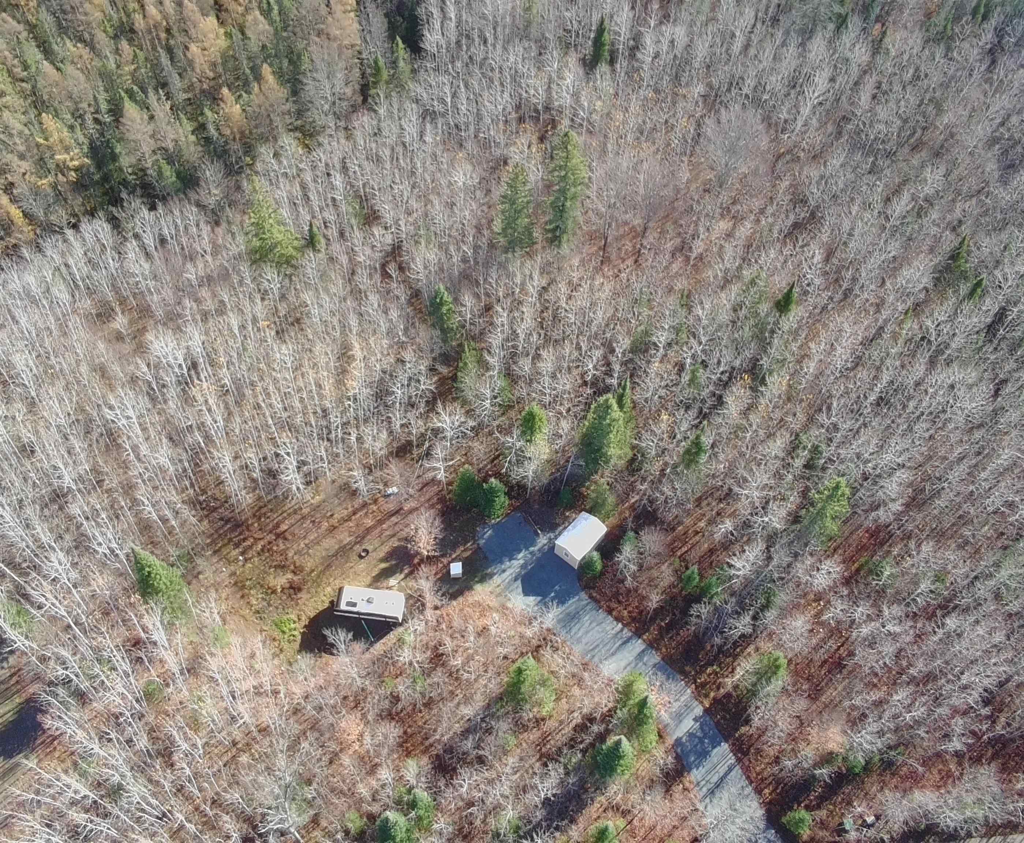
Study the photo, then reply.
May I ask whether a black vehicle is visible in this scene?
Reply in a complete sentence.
No, there isn't any black vehicle down there.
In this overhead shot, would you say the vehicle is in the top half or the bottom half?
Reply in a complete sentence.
You can find the vehicle in the bottom half.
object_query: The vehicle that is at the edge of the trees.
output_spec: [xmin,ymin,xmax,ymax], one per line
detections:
[334,585,406,628]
